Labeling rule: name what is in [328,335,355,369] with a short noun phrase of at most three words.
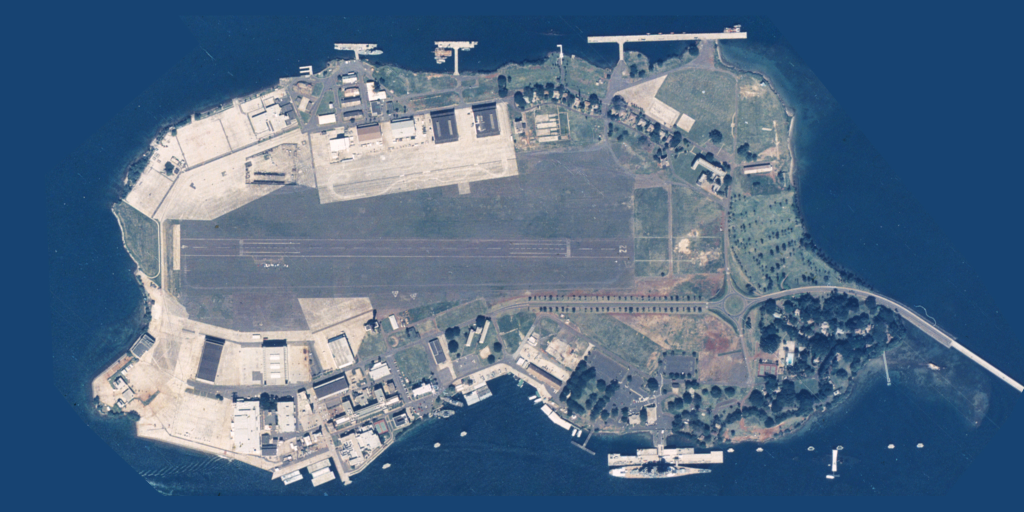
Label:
hangar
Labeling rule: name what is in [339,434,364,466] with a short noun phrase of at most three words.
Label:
building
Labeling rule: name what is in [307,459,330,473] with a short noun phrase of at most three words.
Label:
ship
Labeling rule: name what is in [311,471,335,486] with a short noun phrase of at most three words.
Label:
ship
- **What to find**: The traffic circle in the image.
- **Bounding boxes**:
[706,283,760,327]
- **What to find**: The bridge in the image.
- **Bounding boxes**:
[951,340,1024,393]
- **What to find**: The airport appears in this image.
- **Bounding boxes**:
[92,88,634,464]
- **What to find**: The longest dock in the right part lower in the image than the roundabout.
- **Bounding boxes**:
[608,444,723,467]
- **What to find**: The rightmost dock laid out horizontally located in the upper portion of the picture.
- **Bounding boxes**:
[588,32,747,60]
